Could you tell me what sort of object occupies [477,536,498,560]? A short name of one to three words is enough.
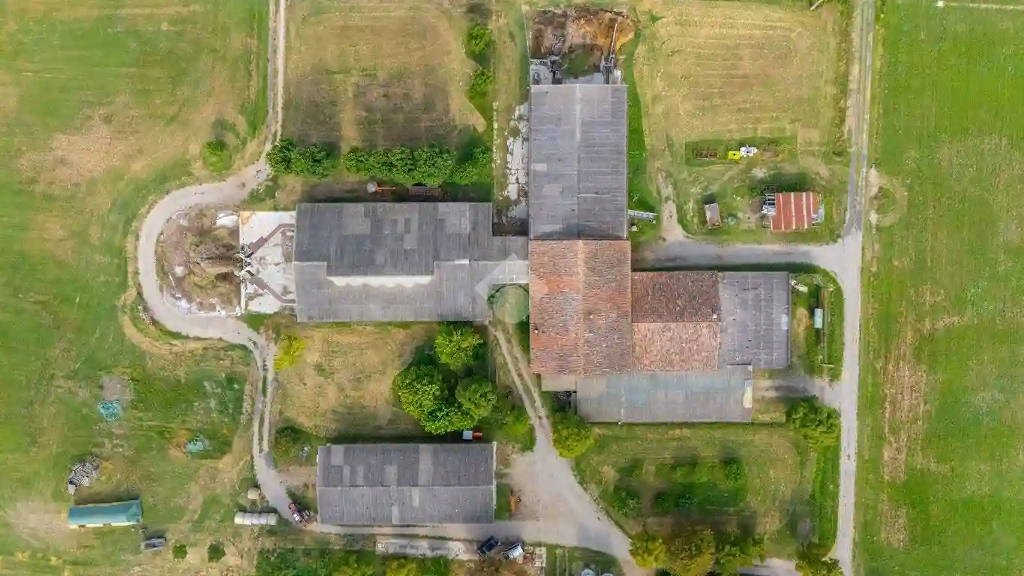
car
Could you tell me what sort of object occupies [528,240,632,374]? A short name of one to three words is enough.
house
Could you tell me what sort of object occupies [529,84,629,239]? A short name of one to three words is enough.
barn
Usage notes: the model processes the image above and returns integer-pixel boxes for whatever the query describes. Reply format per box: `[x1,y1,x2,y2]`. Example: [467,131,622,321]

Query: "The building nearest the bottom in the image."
[316,440,497,525]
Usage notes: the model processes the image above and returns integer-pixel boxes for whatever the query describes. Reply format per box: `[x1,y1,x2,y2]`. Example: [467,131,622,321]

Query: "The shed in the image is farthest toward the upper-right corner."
[760,186,823,232]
